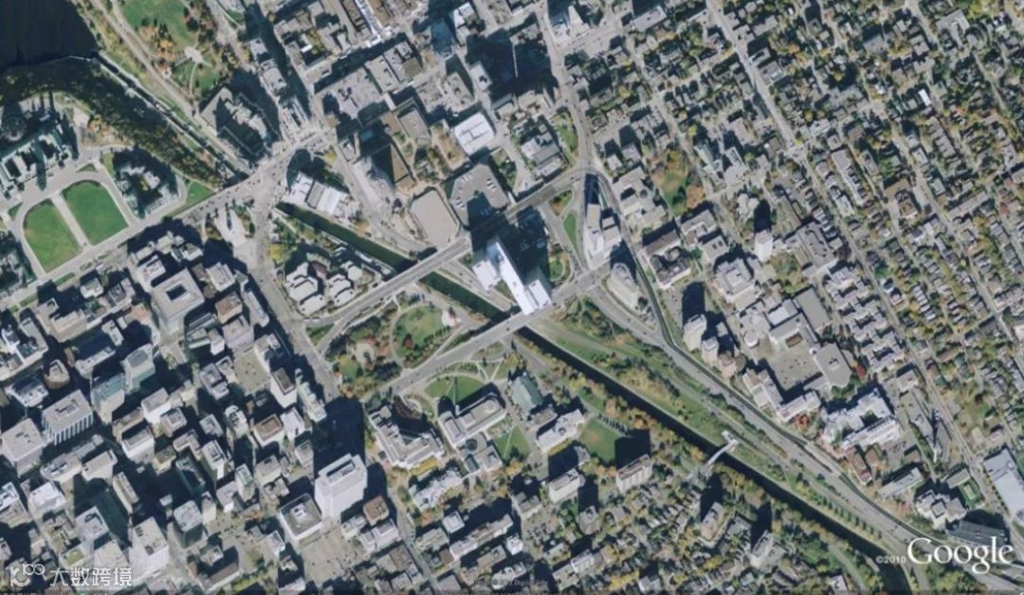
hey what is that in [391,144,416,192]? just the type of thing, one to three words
building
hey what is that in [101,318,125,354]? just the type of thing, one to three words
building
